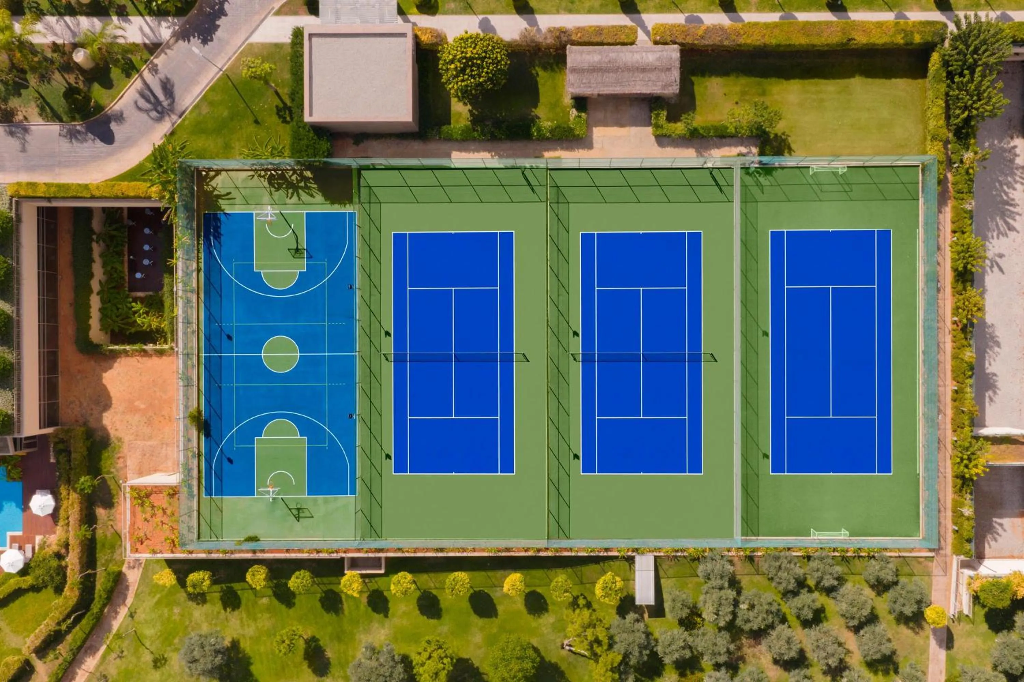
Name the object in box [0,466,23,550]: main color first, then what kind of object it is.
blue swimming pool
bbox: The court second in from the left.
[361,166,547,540]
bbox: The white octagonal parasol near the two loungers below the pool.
[0,549,25,573]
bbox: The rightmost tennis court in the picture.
[742,166,920,538]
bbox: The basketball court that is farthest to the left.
[198,166,357,540]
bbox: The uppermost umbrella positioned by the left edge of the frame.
[29,491,58,516]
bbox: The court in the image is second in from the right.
[549,166,733,540]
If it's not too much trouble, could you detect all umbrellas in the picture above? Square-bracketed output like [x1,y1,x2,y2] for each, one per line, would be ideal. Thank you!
[29,491,58,516]
[0,549,25,573]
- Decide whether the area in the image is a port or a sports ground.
sports ground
